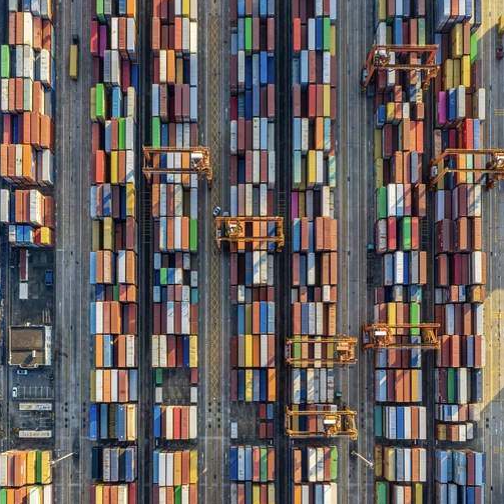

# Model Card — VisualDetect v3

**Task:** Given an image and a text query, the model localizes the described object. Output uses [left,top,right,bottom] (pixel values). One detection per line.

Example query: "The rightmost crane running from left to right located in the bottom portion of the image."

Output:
[360,322,443,351]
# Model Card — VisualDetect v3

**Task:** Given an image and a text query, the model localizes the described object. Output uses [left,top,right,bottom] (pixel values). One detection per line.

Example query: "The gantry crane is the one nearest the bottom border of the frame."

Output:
[280,405,357,437]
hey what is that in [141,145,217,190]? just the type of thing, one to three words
container crane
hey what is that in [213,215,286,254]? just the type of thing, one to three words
container crane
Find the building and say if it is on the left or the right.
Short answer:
left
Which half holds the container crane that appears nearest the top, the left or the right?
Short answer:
right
